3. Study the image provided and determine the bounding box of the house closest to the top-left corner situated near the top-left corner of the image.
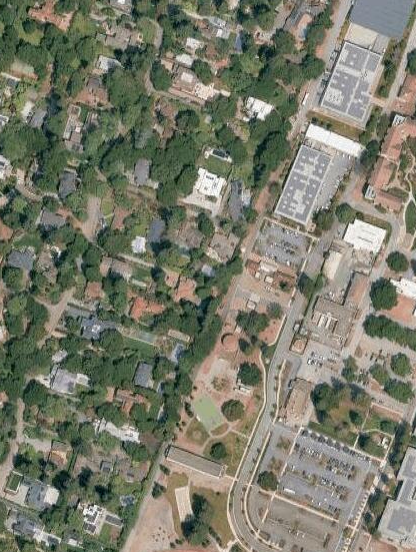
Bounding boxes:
[27,0,76,31]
